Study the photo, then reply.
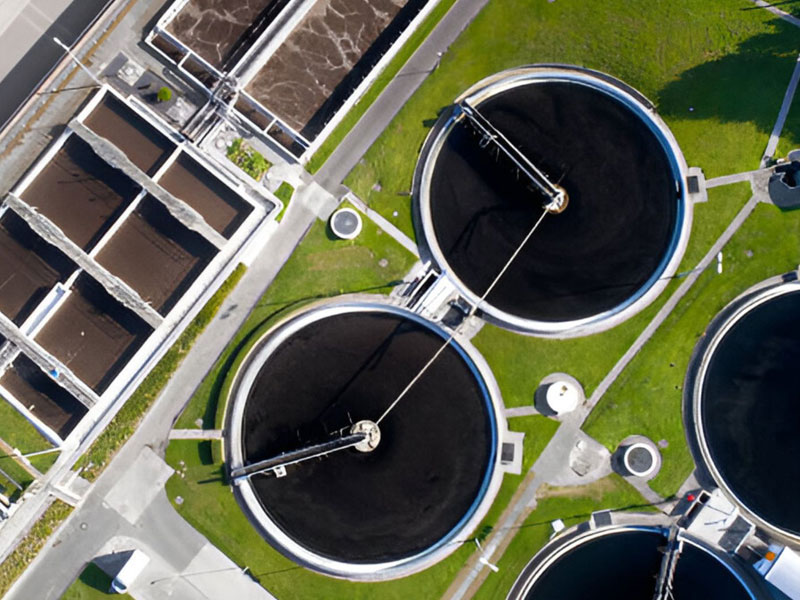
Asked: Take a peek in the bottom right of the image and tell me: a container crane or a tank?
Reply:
tank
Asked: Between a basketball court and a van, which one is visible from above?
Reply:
van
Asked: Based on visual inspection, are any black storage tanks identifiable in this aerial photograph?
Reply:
Yes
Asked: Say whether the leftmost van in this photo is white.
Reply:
Yes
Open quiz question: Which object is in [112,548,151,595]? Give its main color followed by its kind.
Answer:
white van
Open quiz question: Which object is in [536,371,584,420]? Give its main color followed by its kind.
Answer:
white storage tank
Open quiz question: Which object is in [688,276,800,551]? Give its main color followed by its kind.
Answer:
black storage tank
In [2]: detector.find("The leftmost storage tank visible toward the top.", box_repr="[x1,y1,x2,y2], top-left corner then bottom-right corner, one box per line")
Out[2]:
[330,207,362,239]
